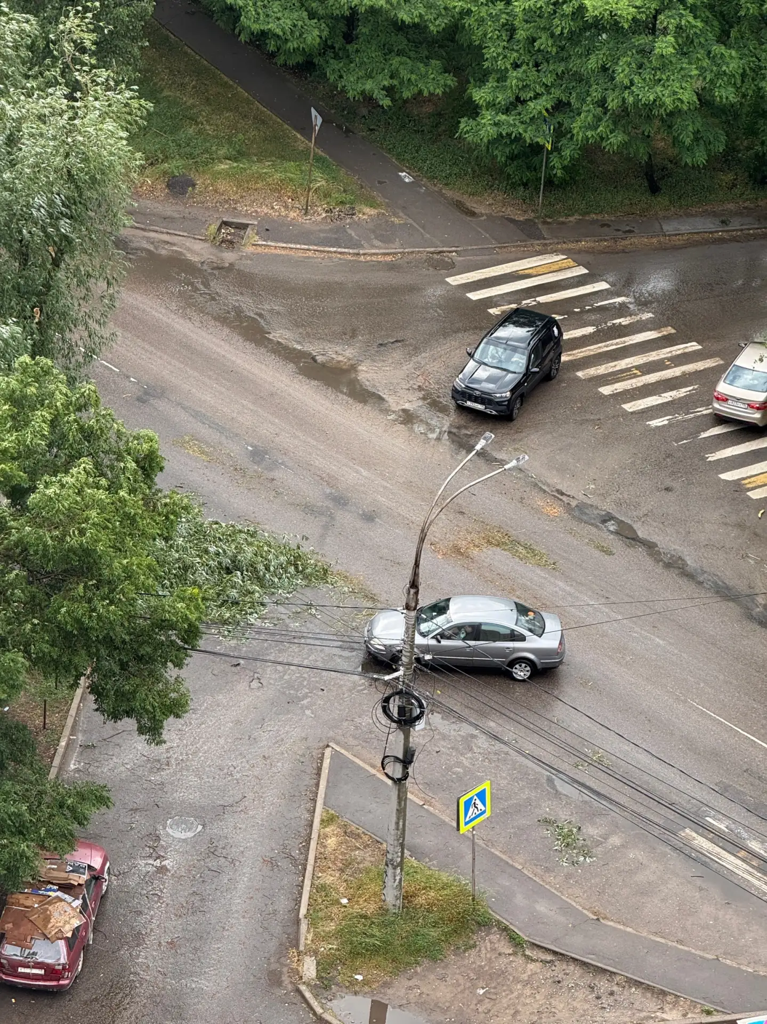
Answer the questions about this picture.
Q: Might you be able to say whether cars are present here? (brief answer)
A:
Yes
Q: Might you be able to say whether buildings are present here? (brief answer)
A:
No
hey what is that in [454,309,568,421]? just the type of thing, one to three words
car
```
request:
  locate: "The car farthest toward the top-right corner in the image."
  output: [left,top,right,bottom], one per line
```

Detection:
[709,331,767,427]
